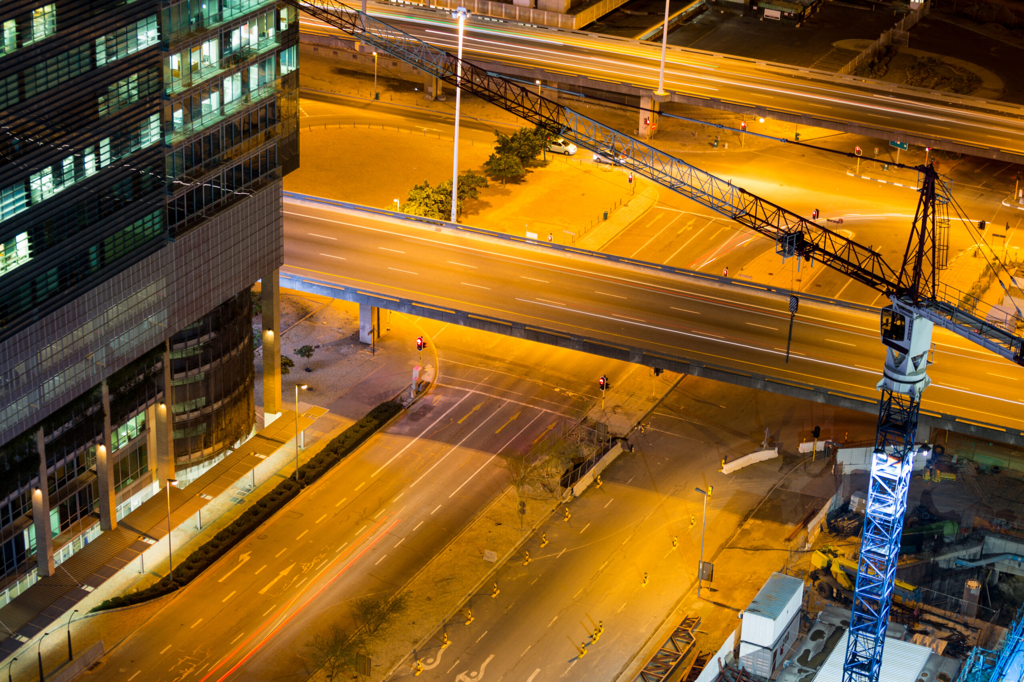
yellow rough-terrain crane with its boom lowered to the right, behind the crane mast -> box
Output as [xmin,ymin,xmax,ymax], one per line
[794,544,941,614]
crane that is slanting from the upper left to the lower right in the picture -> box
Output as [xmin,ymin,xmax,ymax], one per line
[293,0,1024,682]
